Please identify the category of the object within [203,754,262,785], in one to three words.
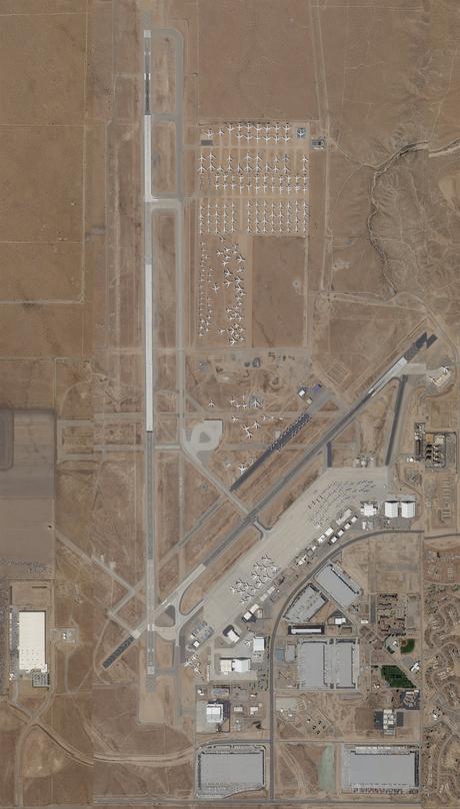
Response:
building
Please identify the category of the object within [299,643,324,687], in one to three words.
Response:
building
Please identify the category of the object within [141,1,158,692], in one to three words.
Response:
runway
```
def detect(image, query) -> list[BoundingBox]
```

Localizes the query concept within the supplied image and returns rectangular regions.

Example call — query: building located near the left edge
[20,612,47,672]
